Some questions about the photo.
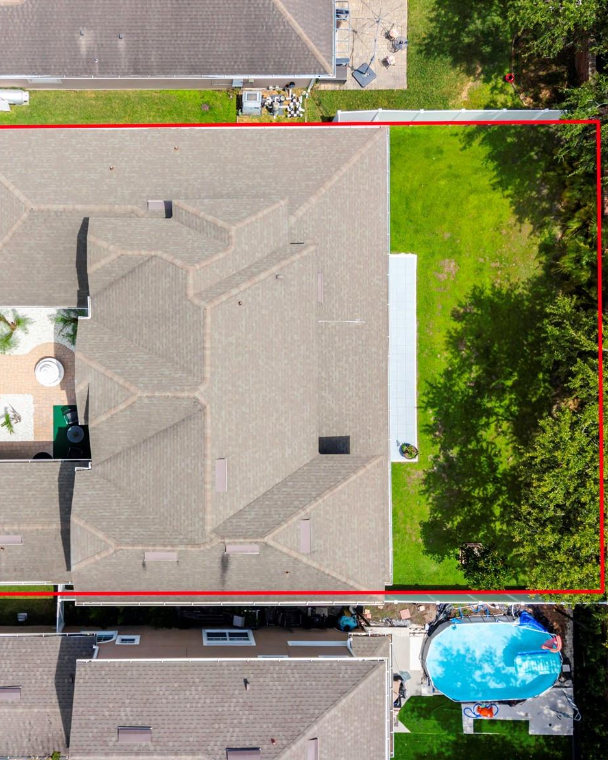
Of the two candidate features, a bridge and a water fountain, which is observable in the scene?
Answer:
water fountain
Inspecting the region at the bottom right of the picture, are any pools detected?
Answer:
Yes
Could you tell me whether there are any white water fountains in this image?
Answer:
Yes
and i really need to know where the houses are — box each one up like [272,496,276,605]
[0,0,336,93]
[0,625,396,760]
[0,123,396,606]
